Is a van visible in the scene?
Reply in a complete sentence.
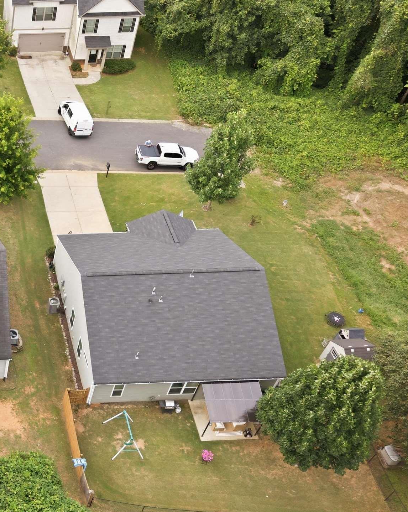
Yes, there's a van here.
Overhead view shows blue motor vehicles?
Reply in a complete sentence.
No, the scene contains no blue motor vehicle.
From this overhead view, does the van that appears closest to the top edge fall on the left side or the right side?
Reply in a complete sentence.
You can find the van that appears closest to the top edge on the left side of the picture.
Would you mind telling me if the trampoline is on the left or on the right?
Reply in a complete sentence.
The trampoline sits on the right side.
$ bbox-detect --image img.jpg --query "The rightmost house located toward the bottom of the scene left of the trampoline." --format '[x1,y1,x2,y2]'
[56,207,297,408]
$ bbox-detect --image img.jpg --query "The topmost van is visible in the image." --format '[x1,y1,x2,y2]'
[58,102,95,140]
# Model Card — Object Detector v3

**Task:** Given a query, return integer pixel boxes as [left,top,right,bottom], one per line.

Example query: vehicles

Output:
[137,141,203,171]
[58,102,95,140]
